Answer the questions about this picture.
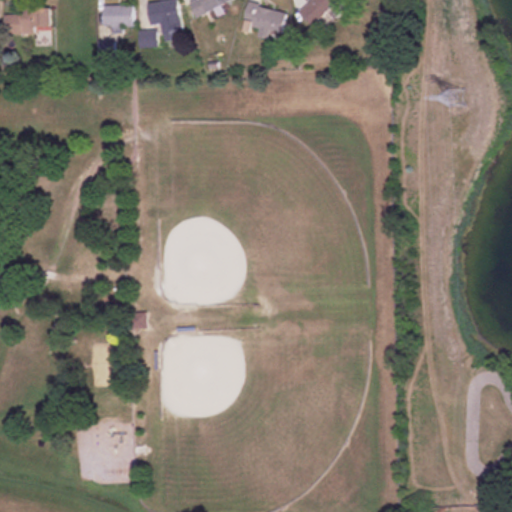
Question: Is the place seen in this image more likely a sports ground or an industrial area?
sports ground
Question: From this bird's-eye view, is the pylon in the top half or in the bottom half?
top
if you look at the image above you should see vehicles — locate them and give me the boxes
[296,12,302,23]
[98,0,104,12]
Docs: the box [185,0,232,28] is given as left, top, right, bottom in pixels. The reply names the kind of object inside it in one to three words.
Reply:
house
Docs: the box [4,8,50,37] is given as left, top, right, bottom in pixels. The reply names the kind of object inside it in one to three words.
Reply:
house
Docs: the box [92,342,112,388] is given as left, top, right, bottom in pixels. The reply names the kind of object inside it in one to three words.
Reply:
sports court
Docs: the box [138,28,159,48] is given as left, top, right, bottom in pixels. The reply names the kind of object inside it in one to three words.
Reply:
building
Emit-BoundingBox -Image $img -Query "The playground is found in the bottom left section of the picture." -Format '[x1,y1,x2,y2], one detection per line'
[74,416,137,487]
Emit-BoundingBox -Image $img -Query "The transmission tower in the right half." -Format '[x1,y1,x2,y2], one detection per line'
[424,86,466,108]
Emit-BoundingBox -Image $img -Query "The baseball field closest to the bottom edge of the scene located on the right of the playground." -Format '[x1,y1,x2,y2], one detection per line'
[159,321,372,512]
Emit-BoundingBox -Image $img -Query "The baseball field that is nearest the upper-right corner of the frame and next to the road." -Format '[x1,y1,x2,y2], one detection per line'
[160,120,370,307]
